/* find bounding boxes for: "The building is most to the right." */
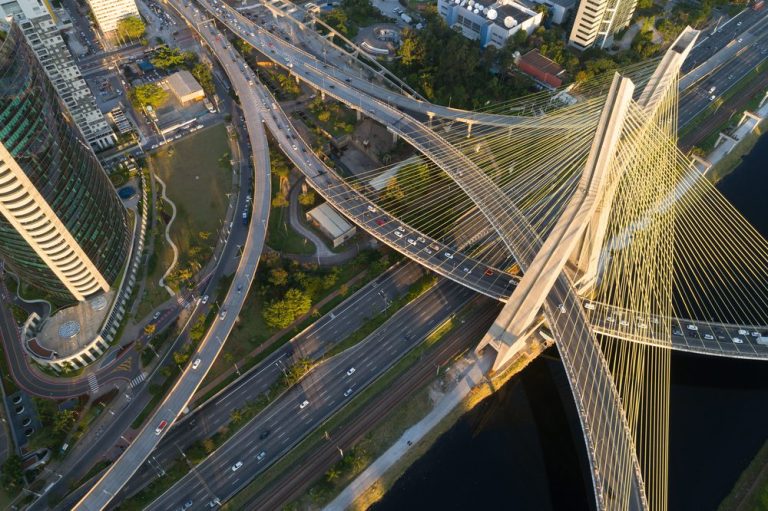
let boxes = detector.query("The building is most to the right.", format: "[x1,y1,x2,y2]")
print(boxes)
[570,0,628,53]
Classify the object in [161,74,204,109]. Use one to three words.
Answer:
building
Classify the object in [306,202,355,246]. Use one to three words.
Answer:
building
